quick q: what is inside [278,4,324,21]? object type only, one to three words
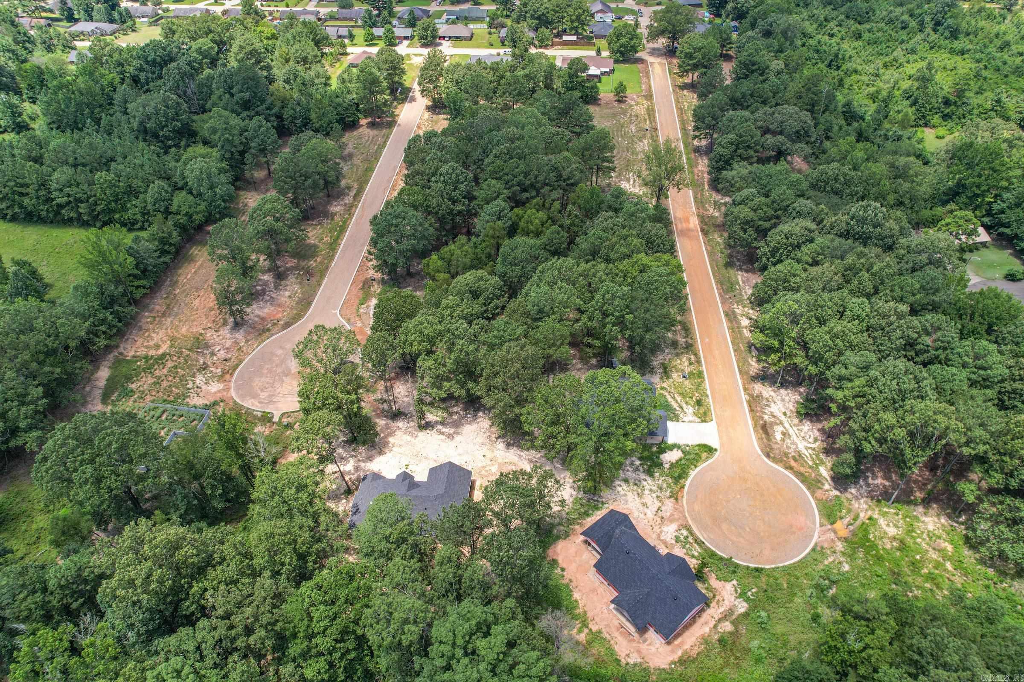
house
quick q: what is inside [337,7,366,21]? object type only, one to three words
house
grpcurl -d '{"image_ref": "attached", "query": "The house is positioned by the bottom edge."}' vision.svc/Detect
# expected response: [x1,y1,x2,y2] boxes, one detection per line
[579,509,711,649]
